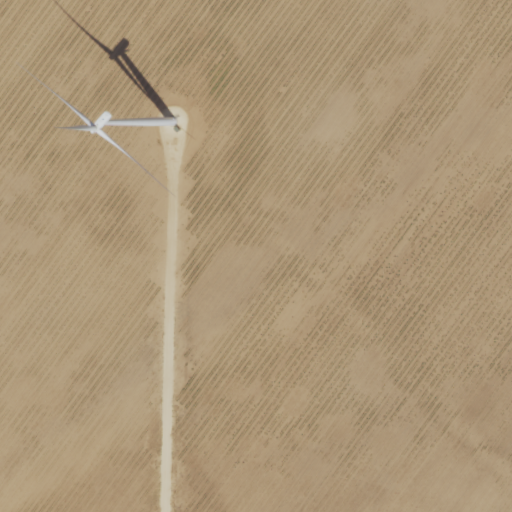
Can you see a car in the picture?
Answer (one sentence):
No, there appears to be no car in this shot.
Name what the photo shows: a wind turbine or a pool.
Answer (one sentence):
This aerial view contains a wind turbine.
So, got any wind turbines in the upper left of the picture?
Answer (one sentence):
Yes, a wind turbine is visible in the upper left of the picture.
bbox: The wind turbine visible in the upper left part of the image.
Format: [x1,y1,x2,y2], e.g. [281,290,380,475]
[26,66,182,194]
